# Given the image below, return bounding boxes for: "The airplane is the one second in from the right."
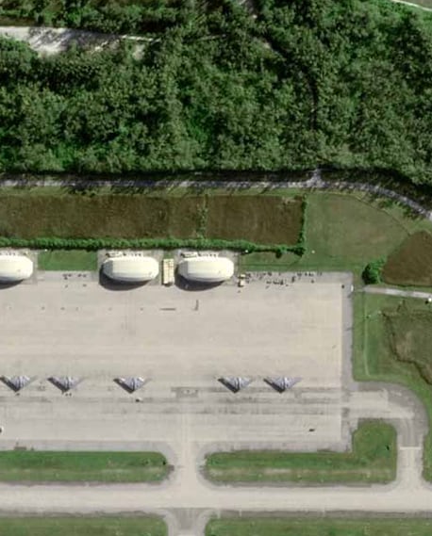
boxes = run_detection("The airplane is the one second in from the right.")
[220,376,254,392]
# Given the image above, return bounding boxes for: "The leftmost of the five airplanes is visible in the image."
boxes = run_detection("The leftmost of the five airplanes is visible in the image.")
[1,376,35,391]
